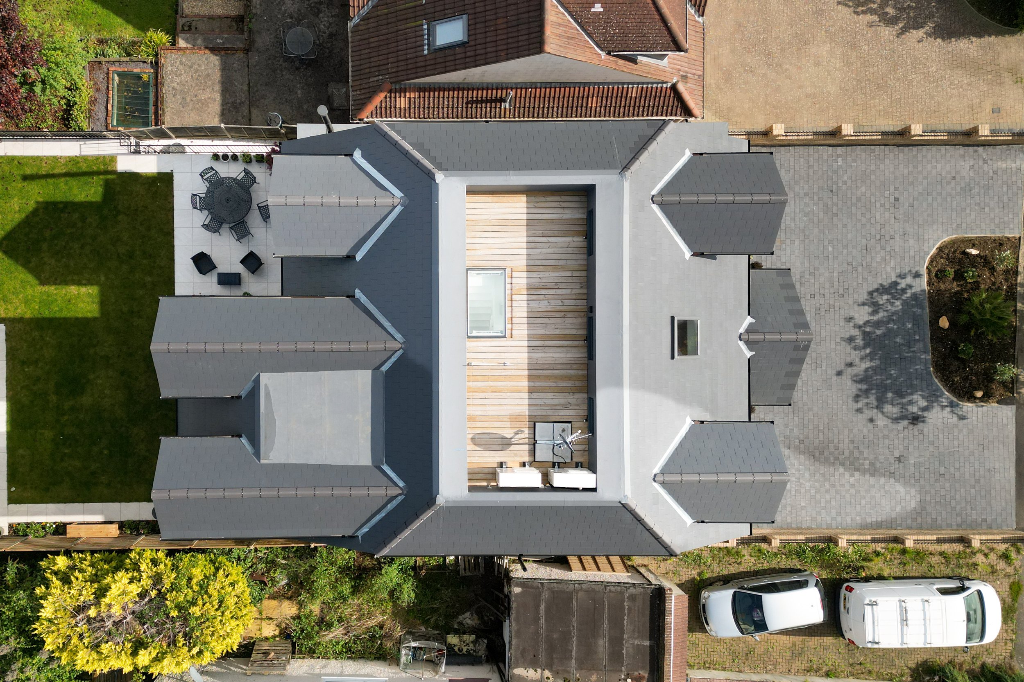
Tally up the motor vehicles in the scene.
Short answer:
2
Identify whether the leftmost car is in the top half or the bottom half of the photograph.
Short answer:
bottom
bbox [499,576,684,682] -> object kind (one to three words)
building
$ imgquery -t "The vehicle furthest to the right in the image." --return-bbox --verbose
[830,573,1002,657]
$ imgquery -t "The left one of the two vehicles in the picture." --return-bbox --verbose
[696,563,829,646]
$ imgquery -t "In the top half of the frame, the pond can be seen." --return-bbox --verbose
[107,66,156,129]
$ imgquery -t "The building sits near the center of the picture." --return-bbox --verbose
[149,102,814,559]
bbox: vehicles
[696,563,829,646]
[830,573,1002,657]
